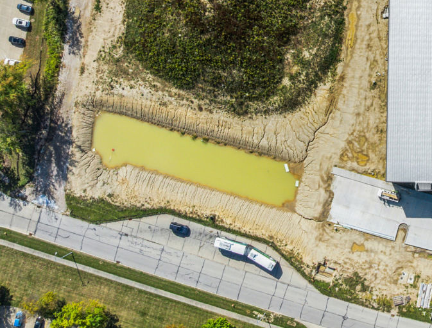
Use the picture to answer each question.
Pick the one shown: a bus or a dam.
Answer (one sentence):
The image shows a bus.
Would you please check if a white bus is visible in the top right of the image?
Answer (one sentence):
No, I can find no white bus in the top right of the image.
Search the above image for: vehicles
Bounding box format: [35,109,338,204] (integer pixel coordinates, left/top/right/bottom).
[9,36,27,45]
[169,224,190,234]
[210,239,277,274]
[5,58,22,66]
[35,317,45,328]
[14,310,25,327]
[379,190,400,202]
[18,4,34,13]
[13,18,31,28]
